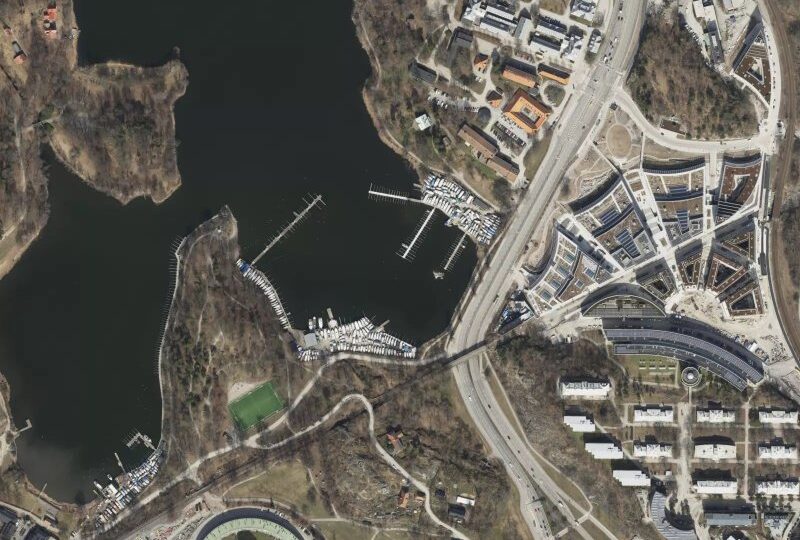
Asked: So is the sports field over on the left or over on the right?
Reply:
left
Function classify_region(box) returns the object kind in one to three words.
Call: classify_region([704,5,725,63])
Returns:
shed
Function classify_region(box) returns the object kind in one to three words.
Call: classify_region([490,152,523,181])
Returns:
house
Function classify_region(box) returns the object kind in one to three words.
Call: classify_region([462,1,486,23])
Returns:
building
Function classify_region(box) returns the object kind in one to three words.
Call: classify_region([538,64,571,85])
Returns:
house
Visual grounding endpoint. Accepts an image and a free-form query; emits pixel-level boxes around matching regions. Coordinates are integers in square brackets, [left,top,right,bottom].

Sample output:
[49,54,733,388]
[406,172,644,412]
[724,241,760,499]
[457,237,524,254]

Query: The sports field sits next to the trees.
[228,381,287,431]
